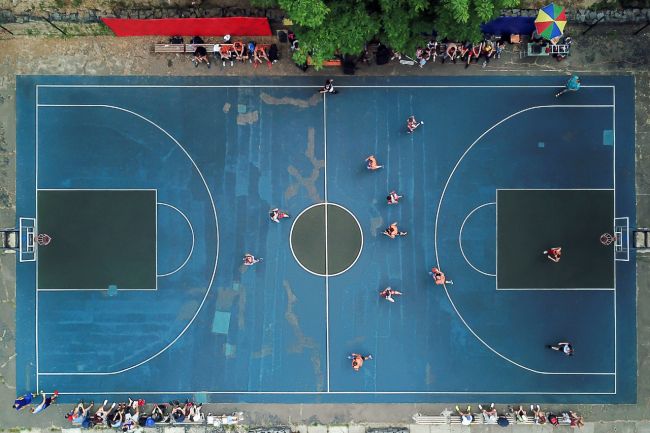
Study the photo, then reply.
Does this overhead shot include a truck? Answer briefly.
No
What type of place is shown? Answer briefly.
sports ground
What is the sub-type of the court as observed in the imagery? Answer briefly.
basketball court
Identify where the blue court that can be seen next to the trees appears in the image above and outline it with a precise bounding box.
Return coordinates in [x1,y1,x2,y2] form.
[16,76,637,404]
